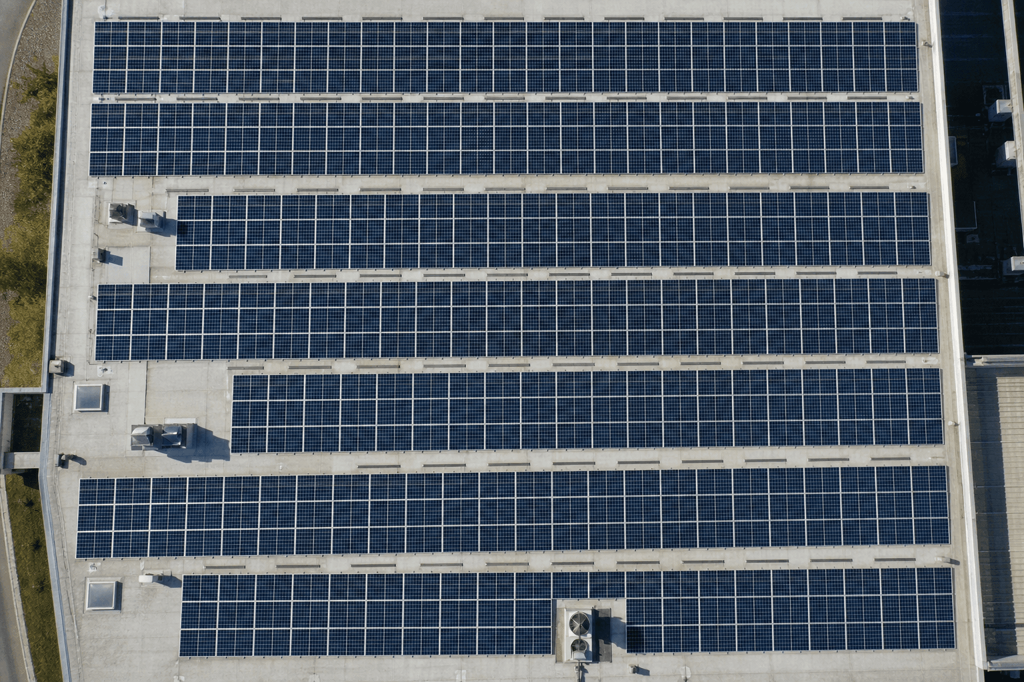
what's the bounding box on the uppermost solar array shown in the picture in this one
[92,22,919,95]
